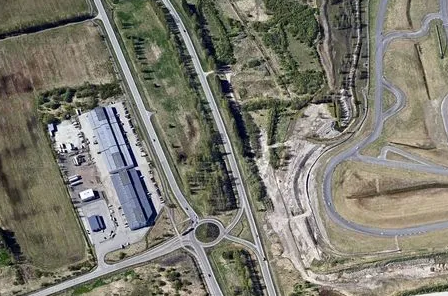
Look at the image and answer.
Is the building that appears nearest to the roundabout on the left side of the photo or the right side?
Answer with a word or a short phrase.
left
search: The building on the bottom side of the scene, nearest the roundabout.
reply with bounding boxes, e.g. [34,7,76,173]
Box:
[109,167,156,229]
